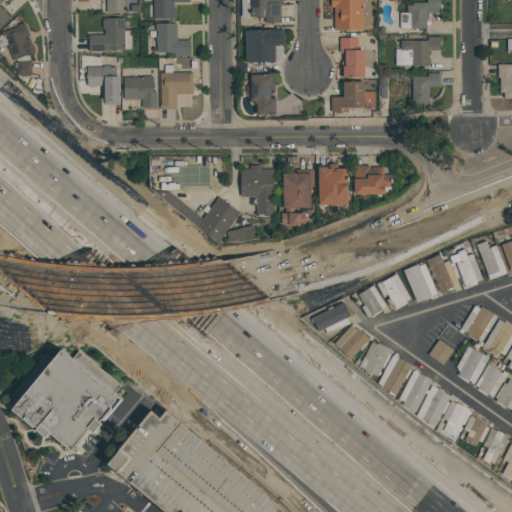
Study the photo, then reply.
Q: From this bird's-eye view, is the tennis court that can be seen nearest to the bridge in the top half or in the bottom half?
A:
top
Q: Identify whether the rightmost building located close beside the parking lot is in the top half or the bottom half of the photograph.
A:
bottom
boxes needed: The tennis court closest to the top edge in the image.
[170,164,210,186]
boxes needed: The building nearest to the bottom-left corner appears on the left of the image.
[10,350,123,451]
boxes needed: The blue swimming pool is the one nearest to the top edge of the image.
[381,3,394,24]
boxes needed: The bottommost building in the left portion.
[106,410,288,512]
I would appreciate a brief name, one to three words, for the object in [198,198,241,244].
building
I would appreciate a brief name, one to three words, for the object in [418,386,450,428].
house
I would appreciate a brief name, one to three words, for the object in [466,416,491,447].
house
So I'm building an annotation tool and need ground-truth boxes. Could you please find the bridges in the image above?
[0,239,269,338]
